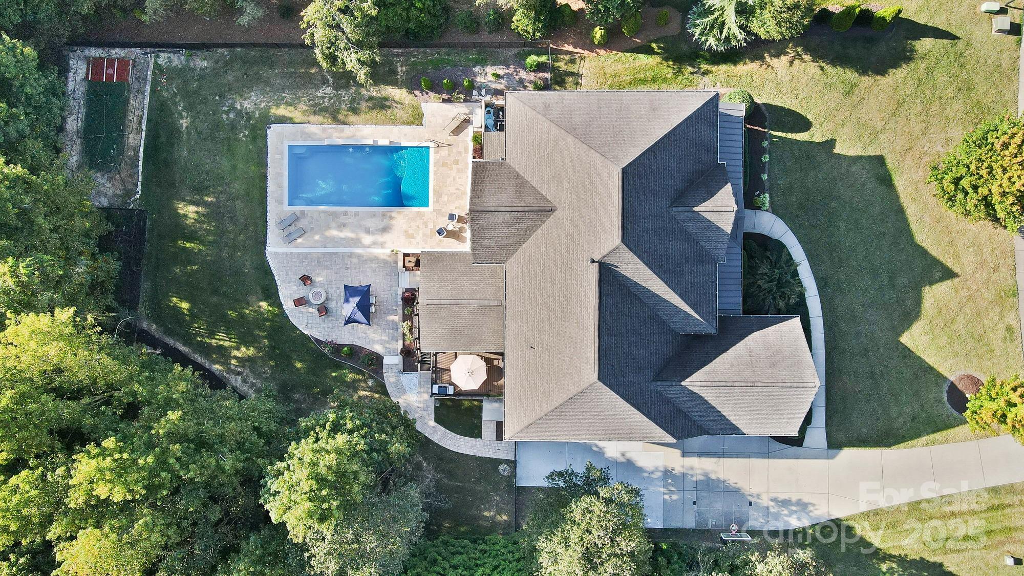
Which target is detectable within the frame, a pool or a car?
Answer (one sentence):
Of the two, only a pool appears.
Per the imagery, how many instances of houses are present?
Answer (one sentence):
The picture shows just 1 house.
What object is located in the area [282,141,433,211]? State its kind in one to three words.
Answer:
swimming pool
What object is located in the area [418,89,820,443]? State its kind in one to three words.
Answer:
house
